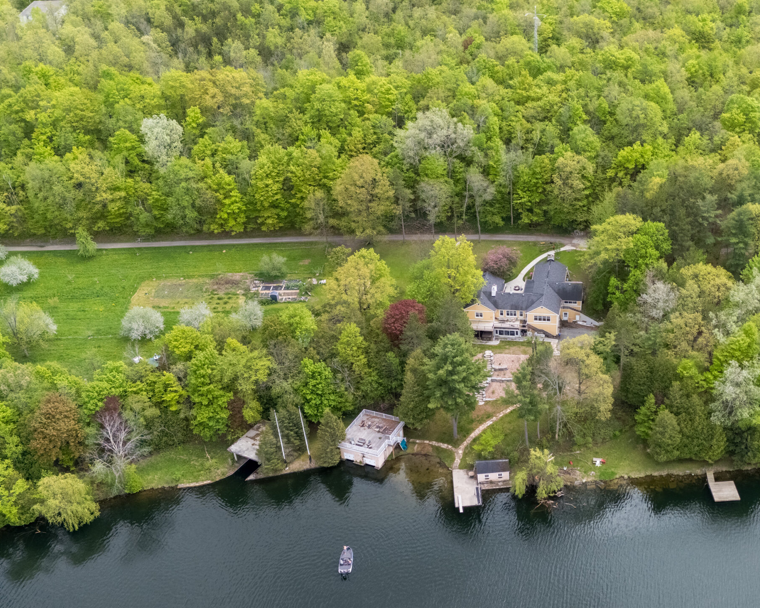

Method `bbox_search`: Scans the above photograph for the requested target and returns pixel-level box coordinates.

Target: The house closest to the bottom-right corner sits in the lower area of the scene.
[475,457,510,484]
